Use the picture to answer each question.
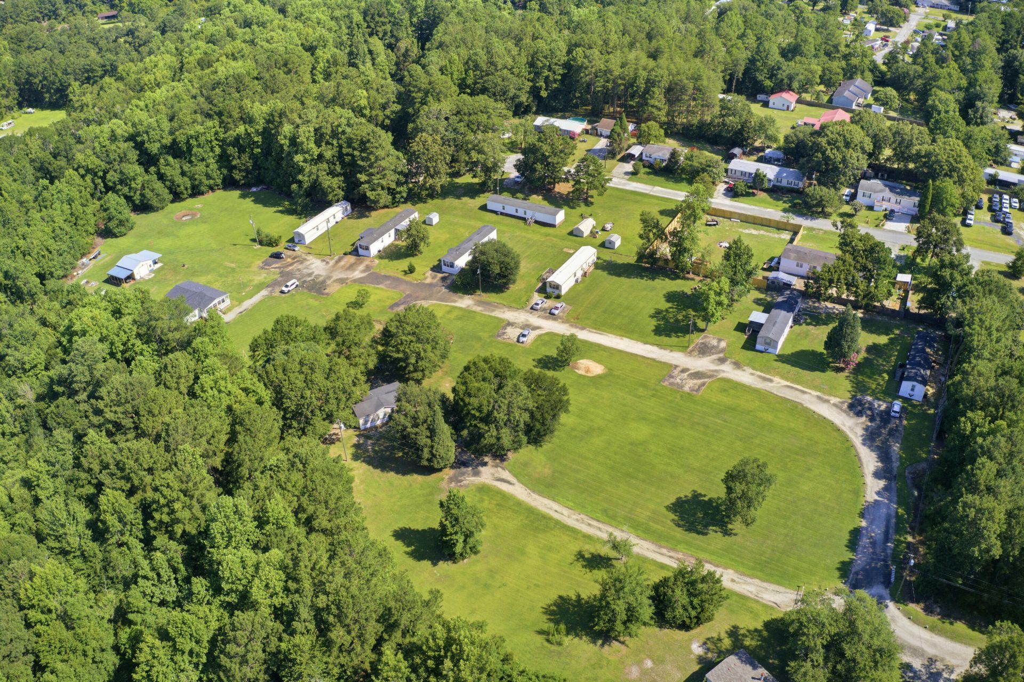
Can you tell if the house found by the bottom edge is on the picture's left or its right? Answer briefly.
right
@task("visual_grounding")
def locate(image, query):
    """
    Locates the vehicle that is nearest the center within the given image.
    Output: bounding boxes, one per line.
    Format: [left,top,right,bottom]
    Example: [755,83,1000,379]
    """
[519,329,532,343]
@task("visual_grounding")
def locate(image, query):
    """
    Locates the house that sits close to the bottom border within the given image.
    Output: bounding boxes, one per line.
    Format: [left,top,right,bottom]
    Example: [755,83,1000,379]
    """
[704,650,775,682]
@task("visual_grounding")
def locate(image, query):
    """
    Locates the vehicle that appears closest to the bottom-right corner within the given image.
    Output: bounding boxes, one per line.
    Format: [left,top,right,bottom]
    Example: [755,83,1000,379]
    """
[890,401,903,418]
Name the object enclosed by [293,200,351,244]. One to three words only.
house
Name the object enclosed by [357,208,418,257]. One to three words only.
house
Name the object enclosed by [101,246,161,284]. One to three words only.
building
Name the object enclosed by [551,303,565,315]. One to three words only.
vehicle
